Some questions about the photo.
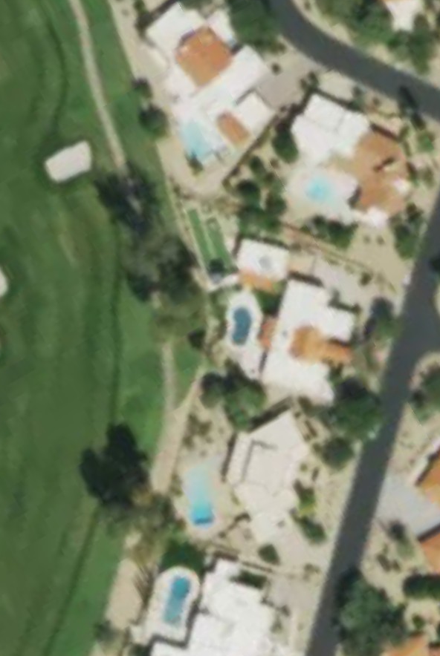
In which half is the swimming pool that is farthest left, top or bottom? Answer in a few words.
bottom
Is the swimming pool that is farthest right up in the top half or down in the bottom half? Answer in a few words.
top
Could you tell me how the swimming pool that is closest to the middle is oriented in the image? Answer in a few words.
vertically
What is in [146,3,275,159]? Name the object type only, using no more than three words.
house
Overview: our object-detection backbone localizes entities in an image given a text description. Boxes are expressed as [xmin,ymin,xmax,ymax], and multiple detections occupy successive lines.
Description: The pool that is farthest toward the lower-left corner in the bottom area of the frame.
[163,574,194,626]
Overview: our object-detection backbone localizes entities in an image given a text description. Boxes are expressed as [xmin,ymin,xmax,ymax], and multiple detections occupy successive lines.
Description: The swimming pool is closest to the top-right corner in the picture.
[303,175,334,207]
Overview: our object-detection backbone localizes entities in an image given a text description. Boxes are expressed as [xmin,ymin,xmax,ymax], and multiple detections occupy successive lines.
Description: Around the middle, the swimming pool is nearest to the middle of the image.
[231,305,253,347]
